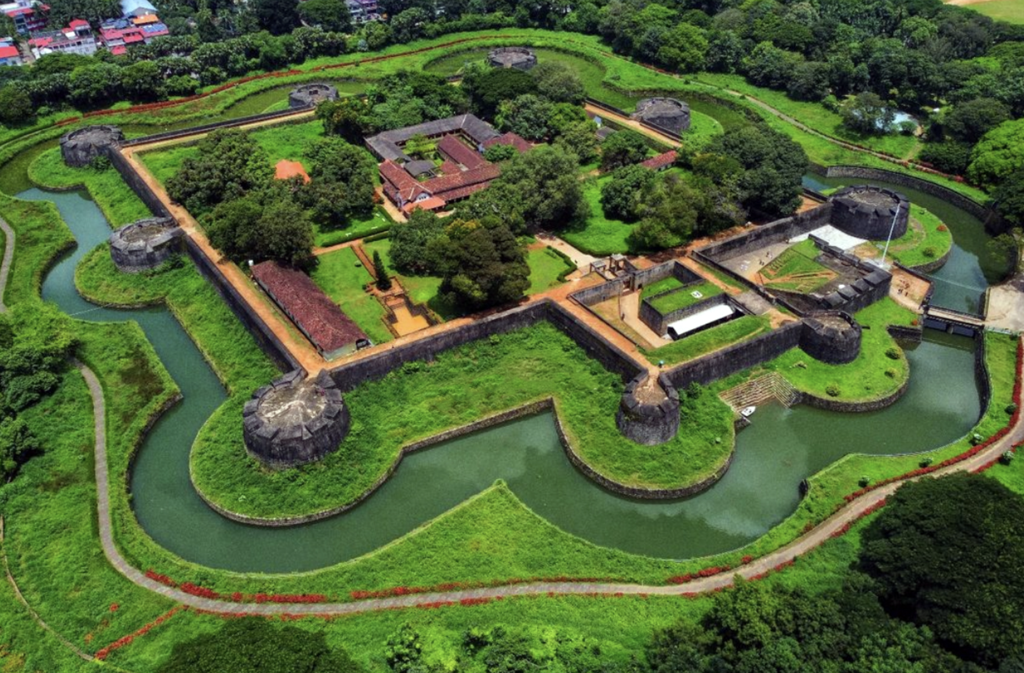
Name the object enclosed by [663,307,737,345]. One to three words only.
shed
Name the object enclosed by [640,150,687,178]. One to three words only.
shed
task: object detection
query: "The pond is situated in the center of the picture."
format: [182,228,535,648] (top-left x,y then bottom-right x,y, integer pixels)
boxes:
[370,290,443,335]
